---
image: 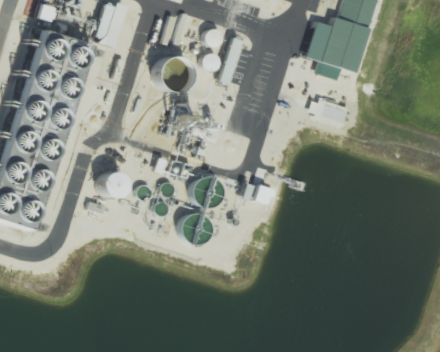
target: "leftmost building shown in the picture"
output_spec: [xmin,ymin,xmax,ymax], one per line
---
[32,4,56,22]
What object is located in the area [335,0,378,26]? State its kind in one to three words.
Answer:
building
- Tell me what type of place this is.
industrial area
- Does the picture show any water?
Yes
